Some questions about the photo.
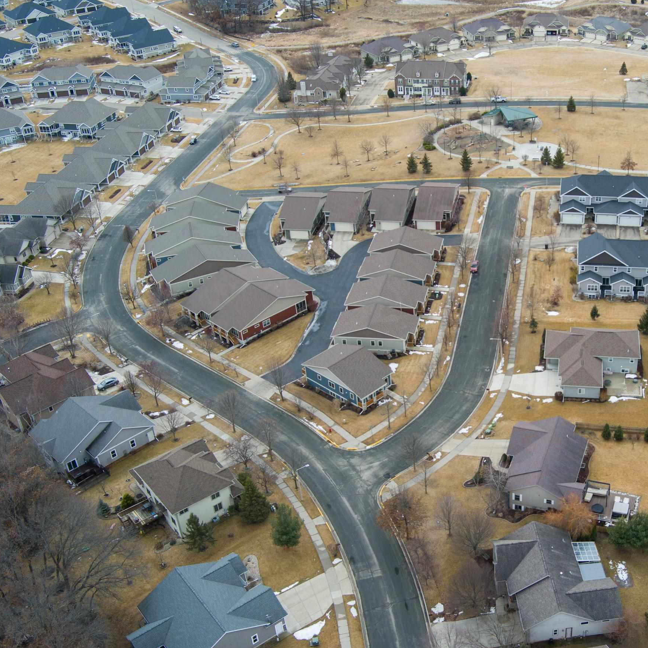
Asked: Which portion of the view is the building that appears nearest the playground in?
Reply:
top right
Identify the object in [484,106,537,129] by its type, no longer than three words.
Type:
building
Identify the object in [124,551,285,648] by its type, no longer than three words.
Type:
house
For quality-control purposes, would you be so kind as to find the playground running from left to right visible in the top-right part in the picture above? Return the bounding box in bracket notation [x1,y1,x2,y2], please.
[440,124,514,157]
